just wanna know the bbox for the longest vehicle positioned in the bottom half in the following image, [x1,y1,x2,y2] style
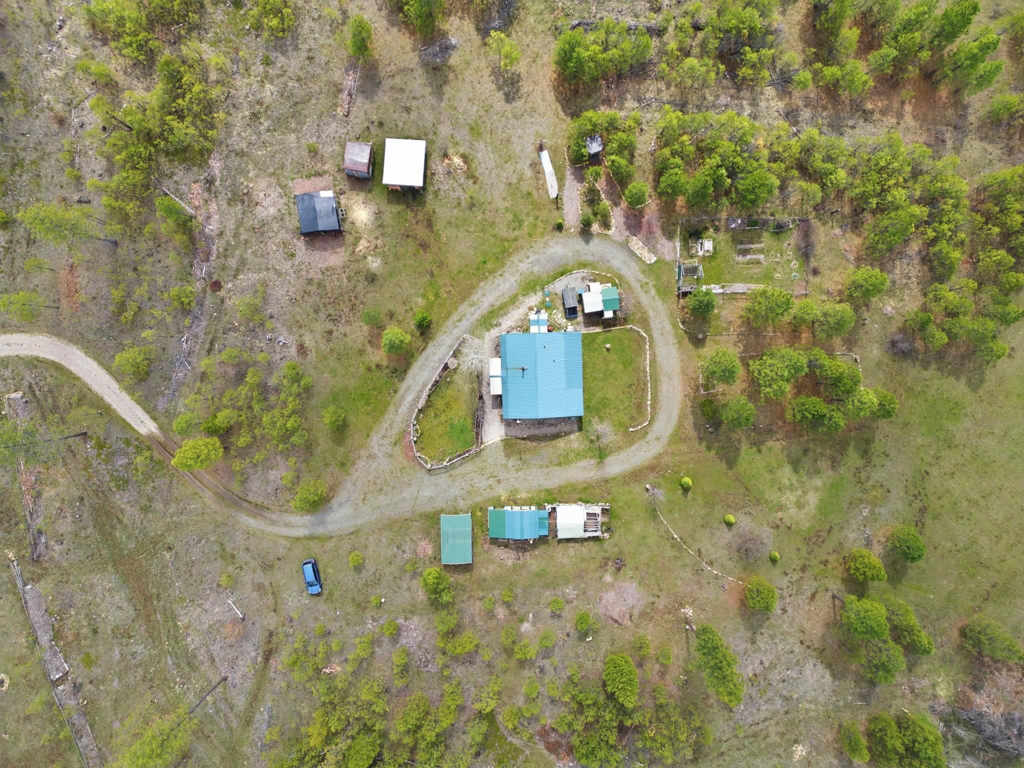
[302,557,321,595]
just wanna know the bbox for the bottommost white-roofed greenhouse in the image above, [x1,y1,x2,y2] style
[556,503,600,540]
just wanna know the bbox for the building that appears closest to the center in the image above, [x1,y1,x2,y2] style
[490,312,583,418]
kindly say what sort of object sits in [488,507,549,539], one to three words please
shed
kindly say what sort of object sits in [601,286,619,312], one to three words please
shed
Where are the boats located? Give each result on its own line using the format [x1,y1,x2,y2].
[540,150,557,197]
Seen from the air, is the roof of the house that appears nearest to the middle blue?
Yes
